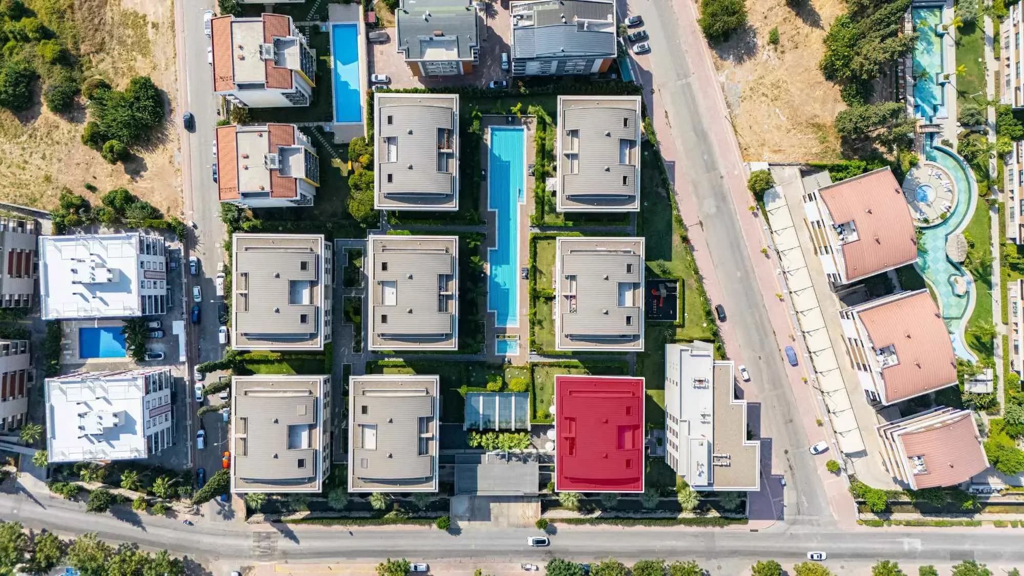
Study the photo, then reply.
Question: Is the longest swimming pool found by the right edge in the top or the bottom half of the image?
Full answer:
It is in the top half that the longest swimming pool found by the right edge appears.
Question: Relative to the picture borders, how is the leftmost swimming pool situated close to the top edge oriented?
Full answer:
Seen from above, the leftmost swimming pool situated close to the top edge lies vertically.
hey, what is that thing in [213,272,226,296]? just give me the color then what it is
white vehicle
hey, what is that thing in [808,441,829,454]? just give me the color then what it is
white vehicle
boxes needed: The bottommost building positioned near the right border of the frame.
[877,404,988,492]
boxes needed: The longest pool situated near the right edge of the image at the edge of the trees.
[910,3,981,366]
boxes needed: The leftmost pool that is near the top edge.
[329,21,362,125]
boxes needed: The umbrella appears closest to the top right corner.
[943,237,965,259]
